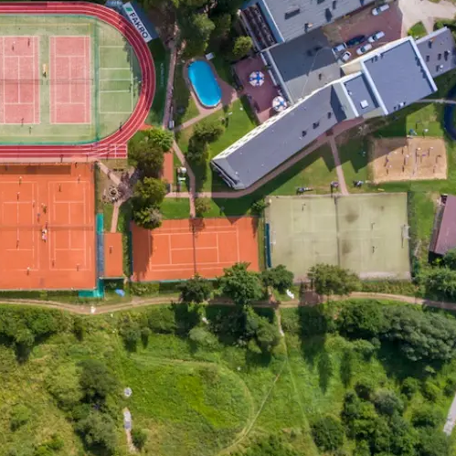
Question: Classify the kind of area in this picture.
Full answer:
The area seen from above is a sports ground.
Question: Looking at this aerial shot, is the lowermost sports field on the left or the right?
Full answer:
The lowermost sports field sits on the right side.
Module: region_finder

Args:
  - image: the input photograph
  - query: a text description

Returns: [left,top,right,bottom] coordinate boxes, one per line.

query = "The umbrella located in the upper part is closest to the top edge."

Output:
[249,71,265,86]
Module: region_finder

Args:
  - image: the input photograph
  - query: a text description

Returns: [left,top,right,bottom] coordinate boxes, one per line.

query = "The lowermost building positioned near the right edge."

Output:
[426,194,456,256]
